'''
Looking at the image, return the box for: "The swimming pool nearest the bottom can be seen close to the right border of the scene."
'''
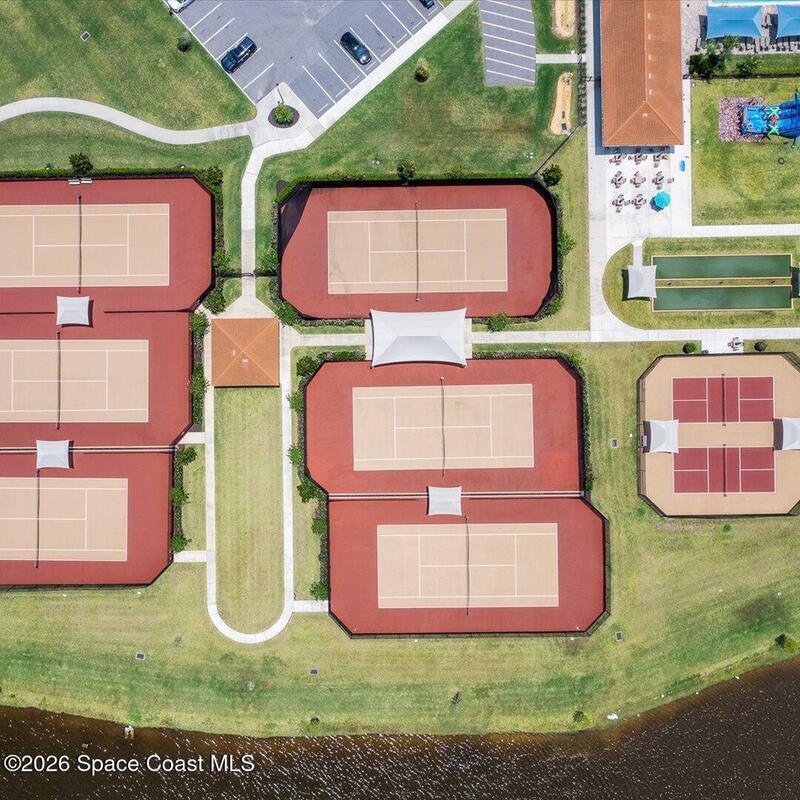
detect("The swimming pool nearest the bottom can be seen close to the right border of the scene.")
[738,104,769,136]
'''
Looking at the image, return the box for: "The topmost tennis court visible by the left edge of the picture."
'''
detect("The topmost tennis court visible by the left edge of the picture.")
[0,178,214,311]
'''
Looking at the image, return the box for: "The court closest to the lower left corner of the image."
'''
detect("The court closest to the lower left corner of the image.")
[0,451,170,586]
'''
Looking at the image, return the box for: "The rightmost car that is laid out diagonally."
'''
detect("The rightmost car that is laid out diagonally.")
[340,29,371,63]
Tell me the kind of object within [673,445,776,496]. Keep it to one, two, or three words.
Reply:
sports court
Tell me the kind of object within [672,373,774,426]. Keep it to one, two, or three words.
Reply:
sports court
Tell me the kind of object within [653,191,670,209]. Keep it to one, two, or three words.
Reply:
umbrella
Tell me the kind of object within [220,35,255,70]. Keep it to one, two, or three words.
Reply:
car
